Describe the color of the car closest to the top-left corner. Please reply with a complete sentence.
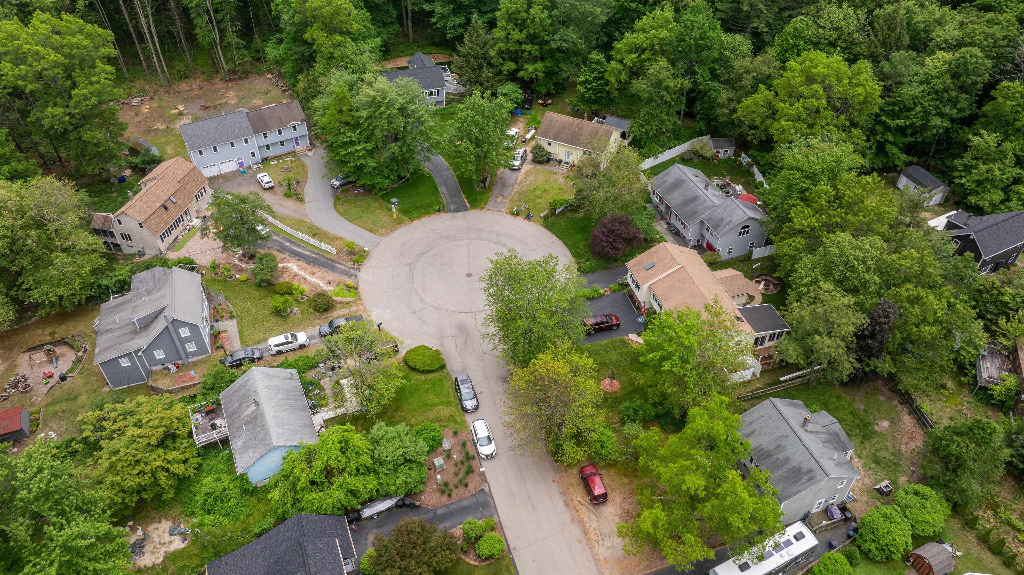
In this view, the car closest to the top-left corner is white.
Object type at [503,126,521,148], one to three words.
vehicle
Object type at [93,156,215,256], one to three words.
house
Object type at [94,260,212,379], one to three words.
house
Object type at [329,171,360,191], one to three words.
car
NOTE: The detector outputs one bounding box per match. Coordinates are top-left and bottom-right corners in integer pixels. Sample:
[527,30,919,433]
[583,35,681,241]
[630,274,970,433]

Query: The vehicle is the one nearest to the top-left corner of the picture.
[253,170,277,190]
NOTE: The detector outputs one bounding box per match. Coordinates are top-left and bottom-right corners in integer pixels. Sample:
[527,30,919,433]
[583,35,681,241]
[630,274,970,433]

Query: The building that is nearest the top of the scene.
[380,52,458,111]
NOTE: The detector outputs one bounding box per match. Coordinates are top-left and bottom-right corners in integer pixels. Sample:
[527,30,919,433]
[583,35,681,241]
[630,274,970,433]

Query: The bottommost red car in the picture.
[580,463,609,506]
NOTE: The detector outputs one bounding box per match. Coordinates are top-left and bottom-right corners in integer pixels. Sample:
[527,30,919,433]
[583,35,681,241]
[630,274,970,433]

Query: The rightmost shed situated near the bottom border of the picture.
[904,534,953,575]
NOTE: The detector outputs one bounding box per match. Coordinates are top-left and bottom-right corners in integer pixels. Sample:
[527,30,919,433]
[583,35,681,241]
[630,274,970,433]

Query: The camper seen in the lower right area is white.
[712,522,819,575]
